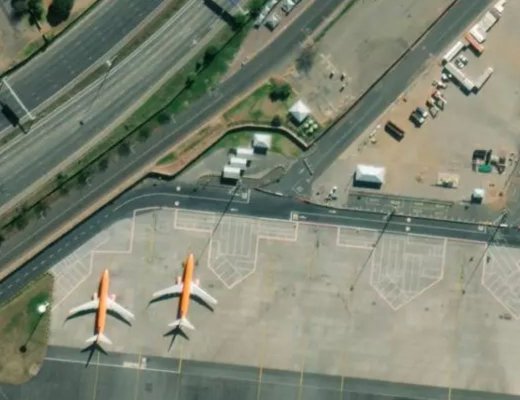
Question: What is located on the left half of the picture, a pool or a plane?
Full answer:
You can see a plane on the left half of the picture.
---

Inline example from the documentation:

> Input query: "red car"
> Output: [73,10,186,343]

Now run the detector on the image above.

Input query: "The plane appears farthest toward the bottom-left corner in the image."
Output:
[70,269,134,345]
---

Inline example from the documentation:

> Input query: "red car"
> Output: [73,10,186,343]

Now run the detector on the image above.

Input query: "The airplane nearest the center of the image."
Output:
[154,253,217,330]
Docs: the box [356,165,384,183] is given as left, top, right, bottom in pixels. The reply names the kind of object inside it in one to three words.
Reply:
house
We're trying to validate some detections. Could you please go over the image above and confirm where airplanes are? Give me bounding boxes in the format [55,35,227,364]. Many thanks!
[70,269,134,345]
[154,253,217,330]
